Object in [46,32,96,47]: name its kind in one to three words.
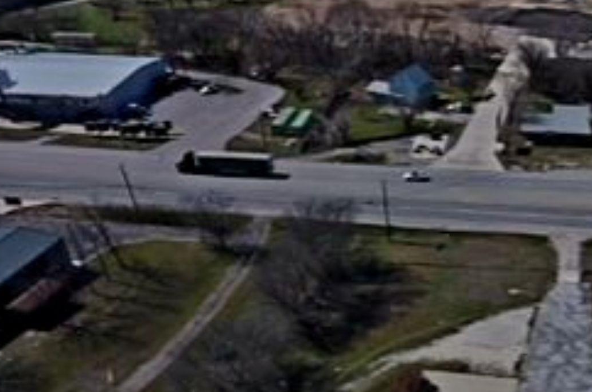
shed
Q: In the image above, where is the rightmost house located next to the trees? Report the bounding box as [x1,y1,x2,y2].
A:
[522,105,592,144]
